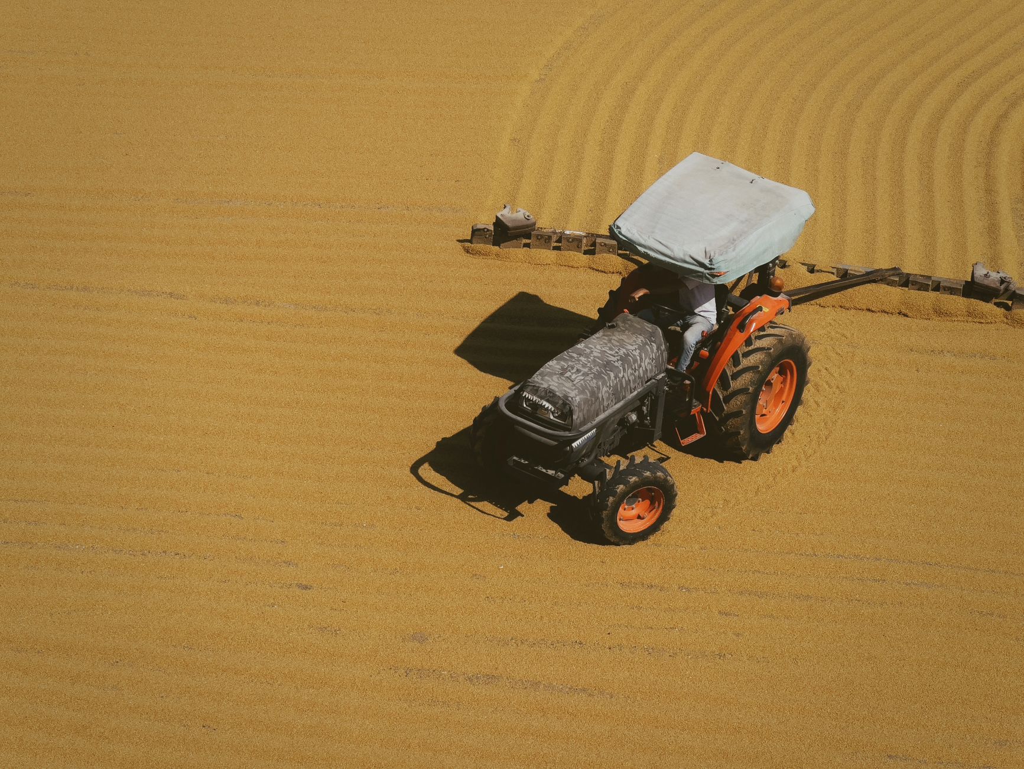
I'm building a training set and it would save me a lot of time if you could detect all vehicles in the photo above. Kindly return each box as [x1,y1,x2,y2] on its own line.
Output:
[485,155,815,545]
